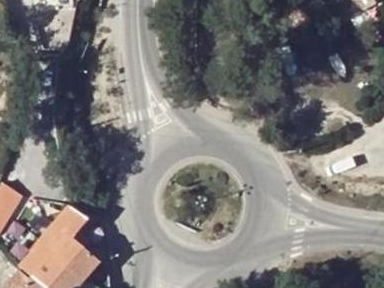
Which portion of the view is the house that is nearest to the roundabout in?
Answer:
bottom left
